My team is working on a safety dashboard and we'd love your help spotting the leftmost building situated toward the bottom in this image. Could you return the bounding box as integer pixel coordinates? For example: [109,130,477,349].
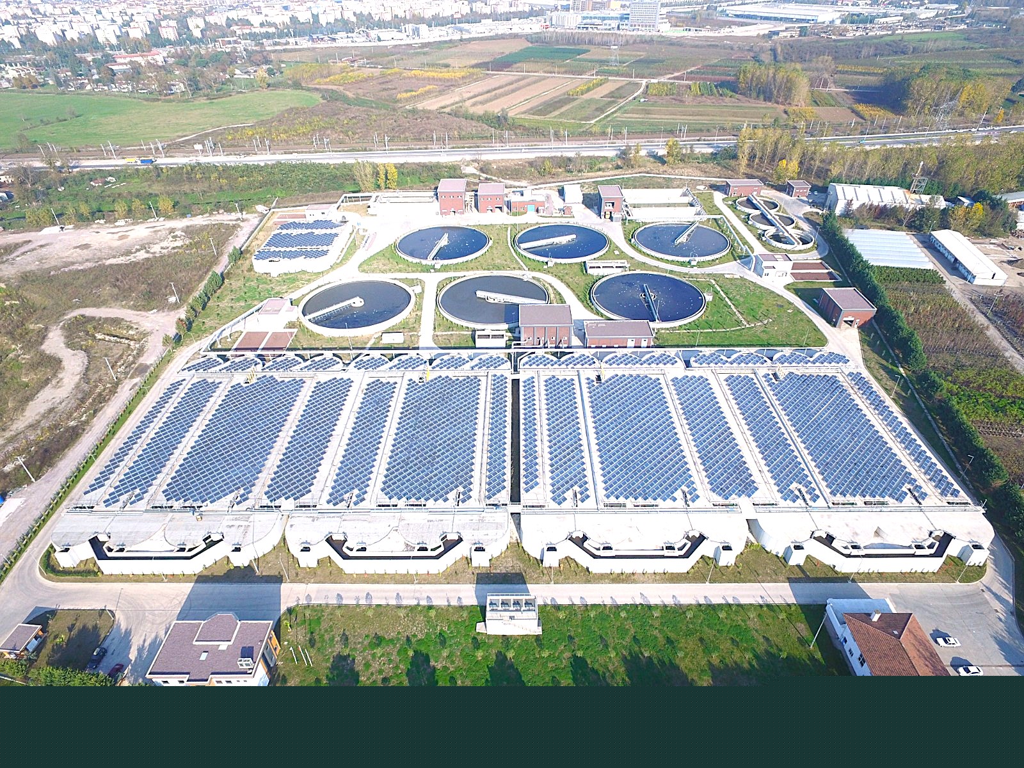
[0,622,50,662]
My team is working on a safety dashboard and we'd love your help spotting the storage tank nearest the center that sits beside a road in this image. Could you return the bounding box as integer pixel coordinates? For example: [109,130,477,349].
[436,275,552,331]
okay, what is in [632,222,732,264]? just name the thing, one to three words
storage tank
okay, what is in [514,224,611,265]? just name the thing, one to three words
storage tank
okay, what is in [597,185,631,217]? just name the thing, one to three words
building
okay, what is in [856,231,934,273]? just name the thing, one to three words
greenhouse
